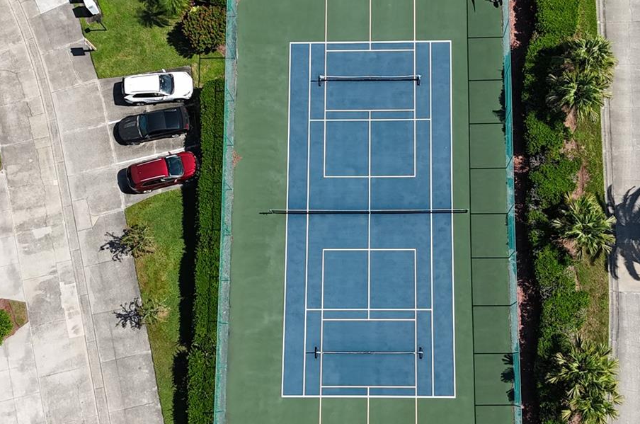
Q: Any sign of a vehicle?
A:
Yes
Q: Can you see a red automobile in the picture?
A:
Yes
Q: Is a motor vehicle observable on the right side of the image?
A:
No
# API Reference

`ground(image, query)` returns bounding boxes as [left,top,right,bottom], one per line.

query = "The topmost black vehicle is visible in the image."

[117,105,192,146]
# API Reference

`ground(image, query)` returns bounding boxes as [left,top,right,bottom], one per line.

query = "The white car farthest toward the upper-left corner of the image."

[123,70,192,106]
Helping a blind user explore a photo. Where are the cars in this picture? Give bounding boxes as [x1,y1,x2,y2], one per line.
[117,105,192,146]
[126,151,198,192]
[123,70,192,106]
